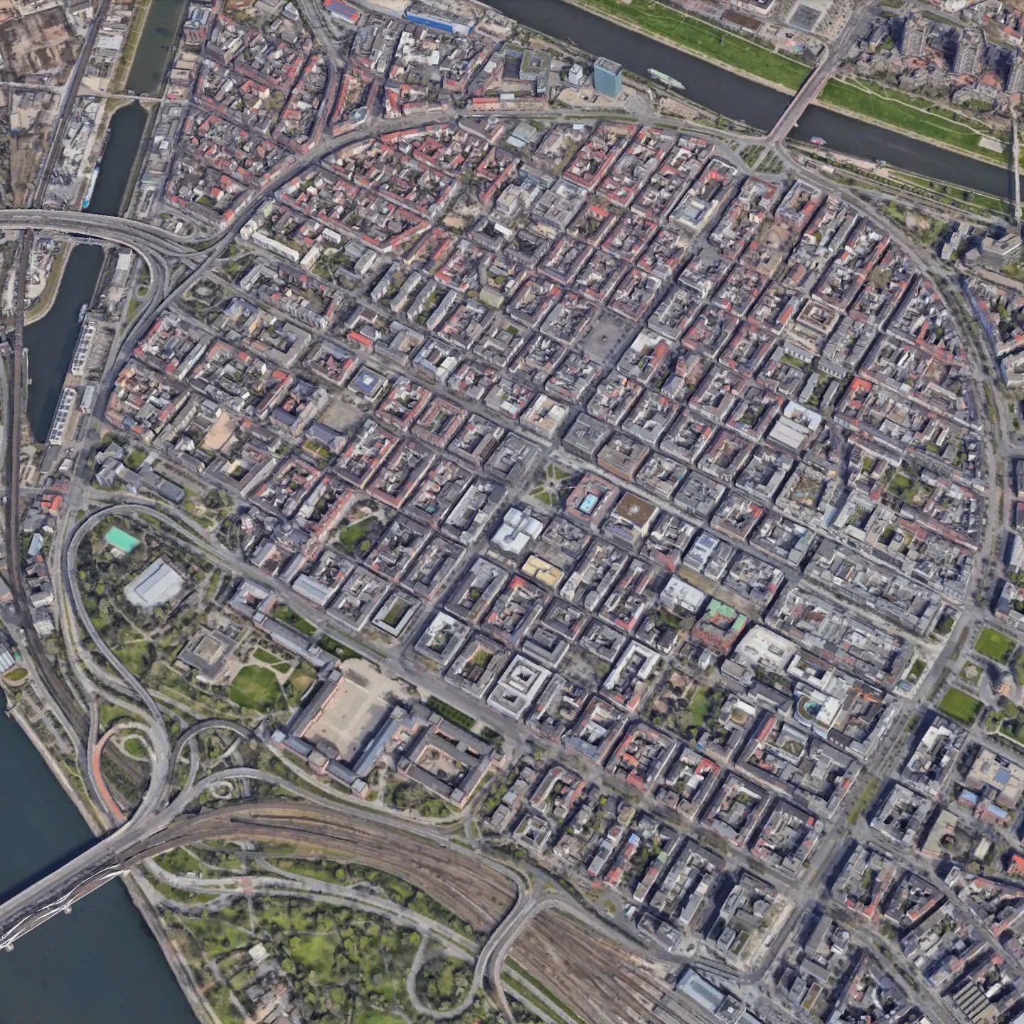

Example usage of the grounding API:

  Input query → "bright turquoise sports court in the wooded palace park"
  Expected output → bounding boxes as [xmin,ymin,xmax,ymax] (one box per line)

[103,526,142,552]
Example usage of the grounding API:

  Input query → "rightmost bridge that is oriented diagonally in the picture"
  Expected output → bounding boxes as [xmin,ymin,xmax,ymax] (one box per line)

[764,55,845,149]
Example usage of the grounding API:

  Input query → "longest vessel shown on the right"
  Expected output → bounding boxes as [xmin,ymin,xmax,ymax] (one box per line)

[646,67,686,89]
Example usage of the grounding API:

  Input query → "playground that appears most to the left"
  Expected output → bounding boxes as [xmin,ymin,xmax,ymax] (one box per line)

[203,416,237,449]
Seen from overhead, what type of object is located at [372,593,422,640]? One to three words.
building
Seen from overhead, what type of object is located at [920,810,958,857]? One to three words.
building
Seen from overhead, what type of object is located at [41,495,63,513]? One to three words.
house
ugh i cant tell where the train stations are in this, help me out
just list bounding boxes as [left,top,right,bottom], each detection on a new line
[677,968,726,1014]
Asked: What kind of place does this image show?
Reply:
residential area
